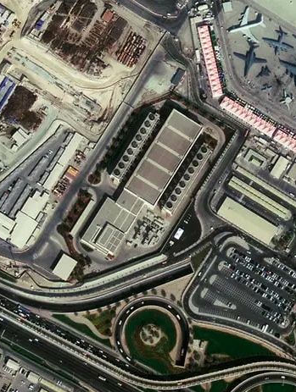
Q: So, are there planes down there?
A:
Yes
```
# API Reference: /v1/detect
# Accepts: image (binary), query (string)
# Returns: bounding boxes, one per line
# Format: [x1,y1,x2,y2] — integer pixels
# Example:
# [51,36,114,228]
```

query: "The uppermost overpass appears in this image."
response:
[0,259,164,295]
